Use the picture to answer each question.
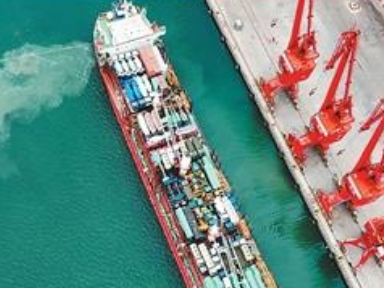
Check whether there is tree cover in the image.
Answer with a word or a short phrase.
No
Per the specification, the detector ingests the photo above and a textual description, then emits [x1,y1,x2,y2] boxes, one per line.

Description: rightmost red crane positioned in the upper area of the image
[284,26,365,163]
